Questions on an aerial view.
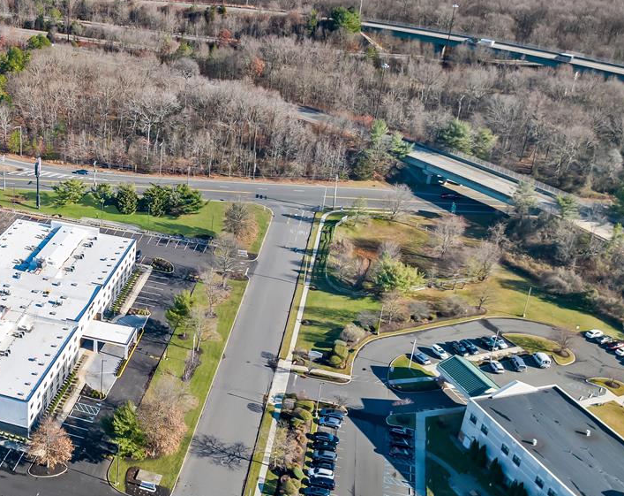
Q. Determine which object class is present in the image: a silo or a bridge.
bridge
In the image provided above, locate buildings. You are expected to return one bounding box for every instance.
[0,218,137,436]
[460,371,624,496]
